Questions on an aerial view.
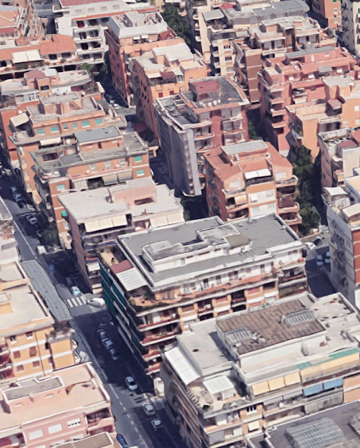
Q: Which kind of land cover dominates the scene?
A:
buildings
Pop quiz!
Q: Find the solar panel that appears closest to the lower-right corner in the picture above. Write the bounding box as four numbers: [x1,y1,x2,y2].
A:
[282,310,317,331]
